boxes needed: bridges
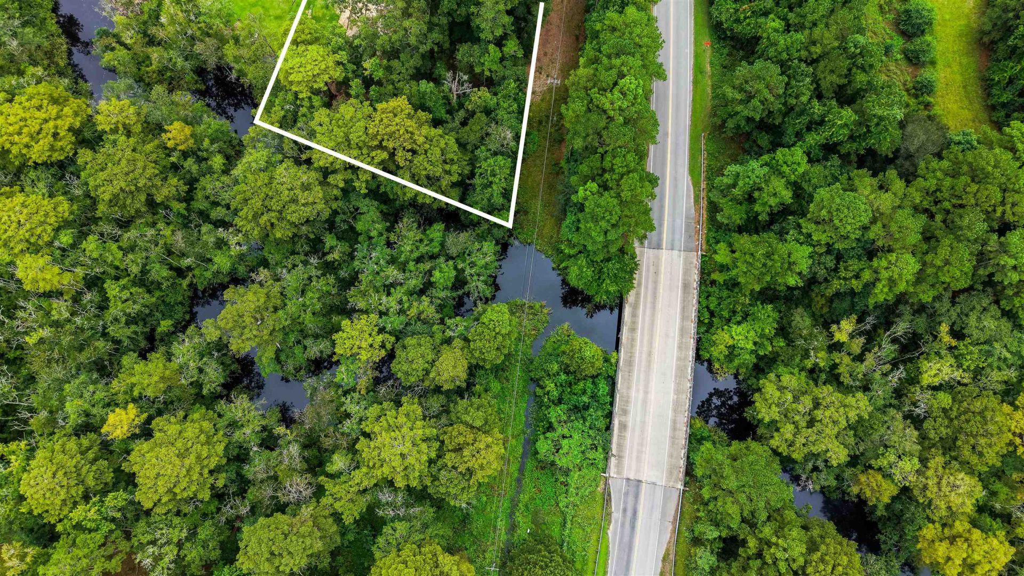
[599,243,701,492]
